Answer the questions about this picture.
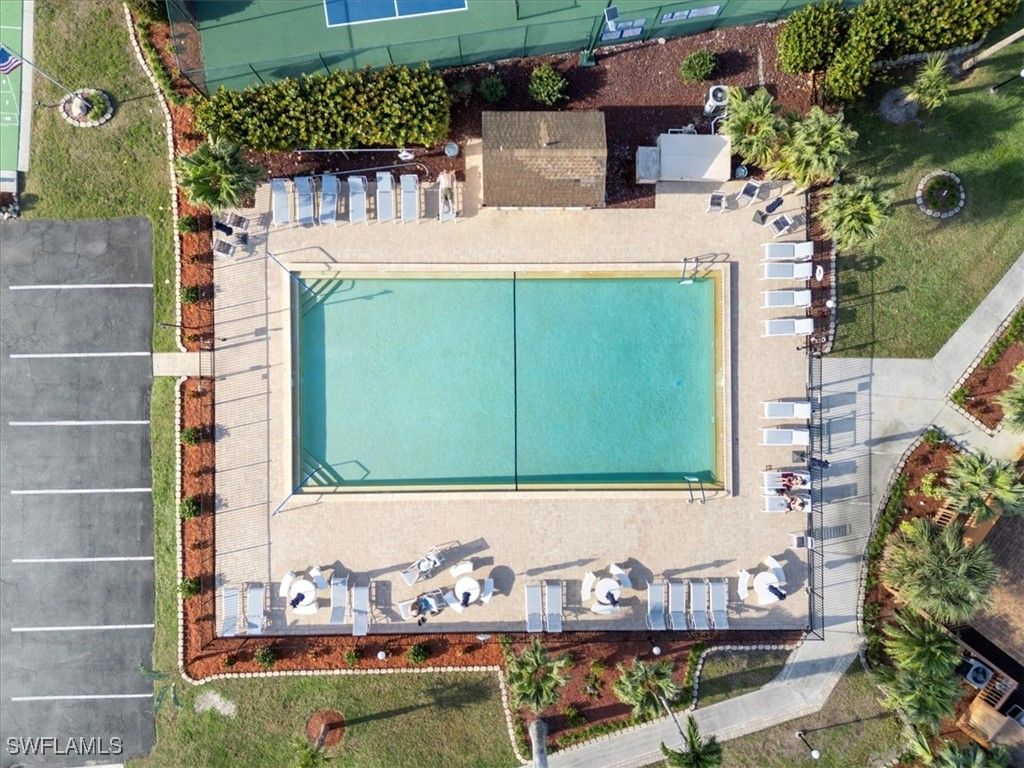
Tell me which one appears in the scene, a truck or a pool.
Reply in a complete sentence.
There is a pool in the scene.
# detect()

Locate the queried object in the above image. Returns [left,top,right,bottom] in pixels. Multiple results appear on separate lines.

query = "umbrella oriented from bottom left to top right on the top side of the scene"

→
[752,199,784,226]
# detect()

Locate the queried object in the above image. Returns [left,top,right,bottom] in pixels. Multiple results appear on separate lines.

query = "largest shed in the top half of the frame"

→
[481,111,610,210]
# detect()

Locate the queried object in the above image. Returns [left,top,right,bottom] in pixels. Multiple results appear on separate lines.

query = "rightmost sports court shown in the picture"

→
[196,0,858,93]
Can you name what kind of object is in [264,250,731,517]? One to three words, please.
swimming pool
